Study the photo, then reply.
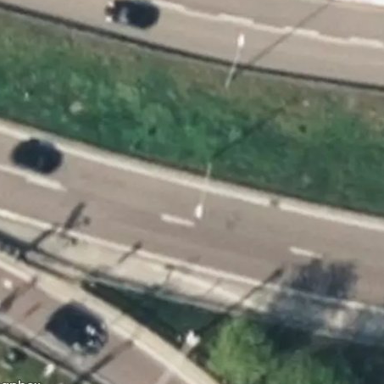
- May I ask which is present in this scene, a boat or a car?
car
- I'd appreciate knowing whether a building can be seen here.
No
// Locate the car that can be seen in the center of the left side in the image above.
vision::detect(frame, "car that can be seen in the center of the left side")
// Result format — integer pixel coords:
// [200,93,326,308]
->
[11,142,62,175]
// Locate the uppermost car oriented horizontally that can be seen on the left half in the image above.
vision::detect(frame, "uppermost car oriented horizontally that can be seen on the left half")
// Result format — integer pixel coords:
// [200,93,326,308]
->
[107,0,156,26]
